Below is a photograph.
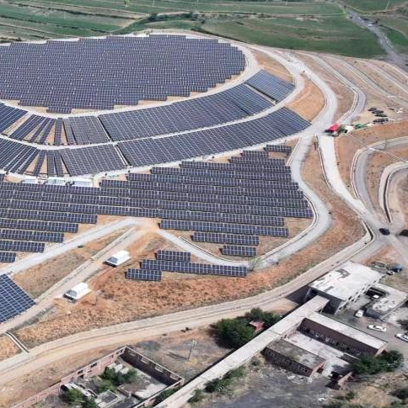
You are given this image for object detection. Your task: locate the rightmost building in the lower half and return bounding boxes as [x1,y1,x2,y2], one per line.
[361,287,408,321]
